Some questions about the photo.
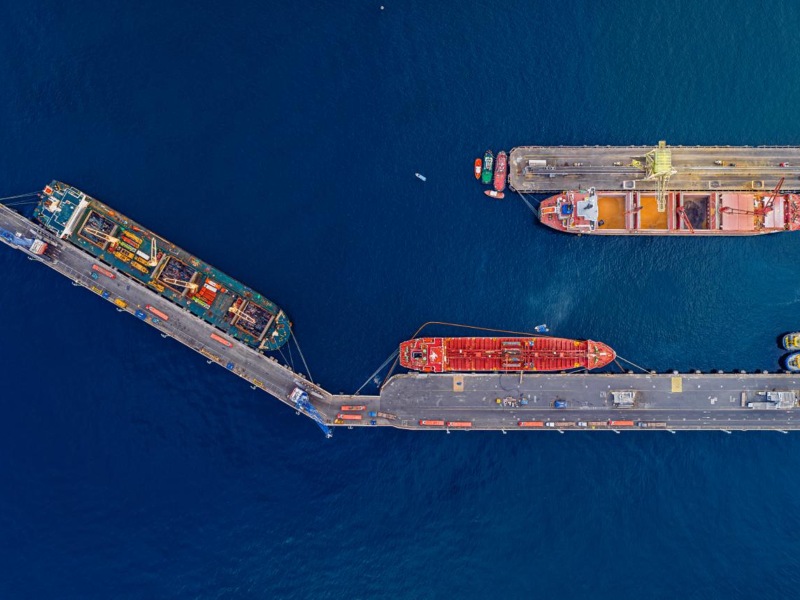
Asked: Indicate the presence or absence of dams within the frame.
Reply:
No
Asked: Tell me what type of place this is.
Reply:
port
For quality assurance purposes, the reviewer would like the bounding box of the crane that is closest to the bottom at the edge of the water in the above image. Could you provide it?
[290,384,332,439]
